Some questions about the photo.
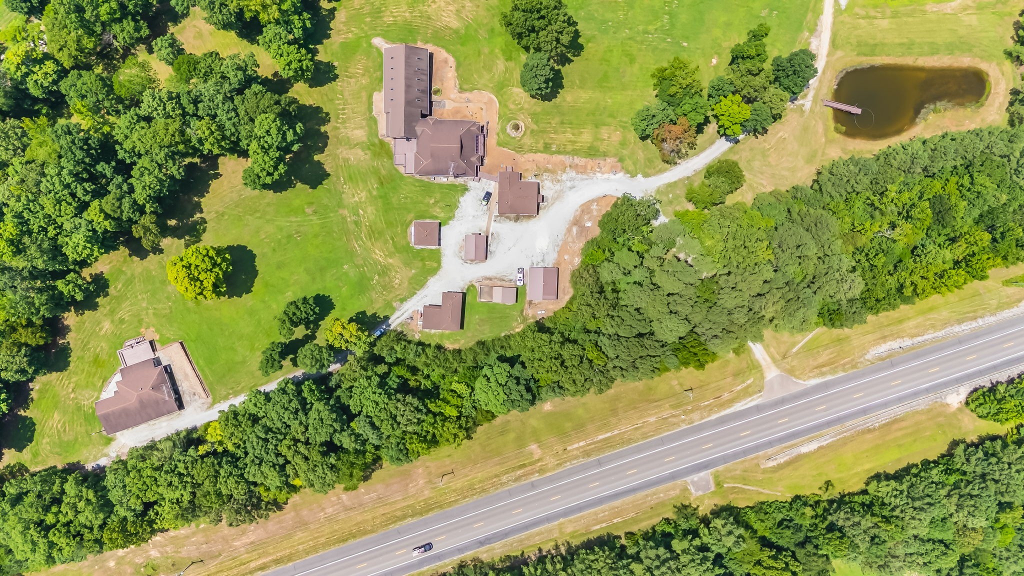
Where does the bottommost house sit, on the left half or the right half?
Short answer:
left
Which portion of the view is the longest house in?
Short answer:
top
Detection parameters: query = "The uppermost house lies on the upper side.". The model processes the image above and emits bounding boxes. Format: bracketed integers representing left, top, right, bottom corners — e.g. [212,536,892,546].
[384,44,498,181]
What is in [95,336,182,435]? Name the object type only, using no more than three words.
house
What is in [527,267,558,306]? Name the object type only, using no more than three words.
building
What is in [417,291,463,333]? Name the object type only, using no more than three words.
house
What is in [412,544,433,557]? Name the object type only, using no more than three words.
vehicle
